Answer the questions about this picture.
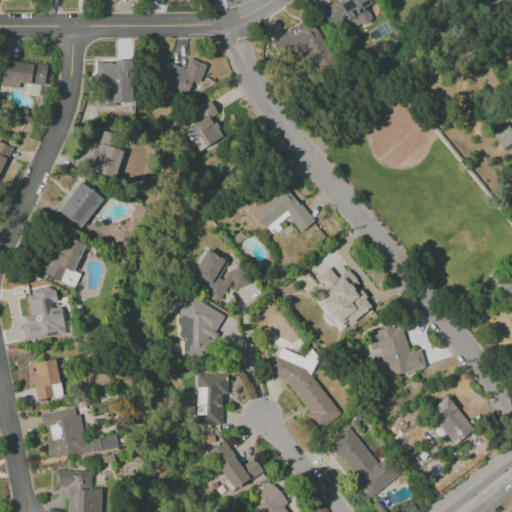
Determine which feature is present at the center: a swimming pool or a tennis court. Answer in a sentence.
Looking at the center, you will find a swimming pool.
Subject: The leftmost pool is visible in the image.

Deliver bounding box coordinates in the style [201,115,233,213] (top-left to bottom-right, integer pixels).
[10,90,32,108]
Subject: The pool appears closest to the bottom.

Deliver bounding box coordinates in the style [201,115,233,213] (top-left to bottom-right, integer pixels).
[386,486,412,504]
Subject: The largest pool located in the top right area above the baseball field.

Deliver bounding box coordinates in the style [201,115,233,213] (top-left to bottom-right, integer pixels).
[370,22,392,41]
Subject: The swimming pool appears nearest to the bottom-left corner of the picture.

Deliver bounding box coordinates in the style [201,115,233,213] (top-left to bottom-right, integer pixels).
[86,260,102,289]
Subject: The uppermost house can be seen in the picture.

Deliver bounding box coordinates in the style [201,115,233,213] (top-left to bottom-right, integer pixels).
[326,0,377,28]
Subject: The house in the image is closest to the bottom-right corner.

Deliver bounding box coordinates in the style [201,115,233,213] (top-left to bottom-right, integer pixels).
[440,396,472,444]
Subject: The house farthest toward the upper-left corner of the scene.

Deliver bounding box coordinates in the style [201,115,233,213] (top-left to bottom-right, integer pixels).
[2,62,48,96]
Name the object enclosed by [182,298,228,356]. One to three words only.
house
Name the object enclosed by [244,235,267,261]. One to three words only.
swimming pool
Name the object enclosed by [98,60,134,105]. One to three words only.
house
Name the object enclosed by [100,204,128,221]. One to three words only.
swimming pool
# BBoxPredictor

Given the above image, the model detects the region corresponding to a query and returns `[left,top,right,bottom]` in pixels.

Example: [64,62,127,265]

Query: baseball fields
[322,104,512,290]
